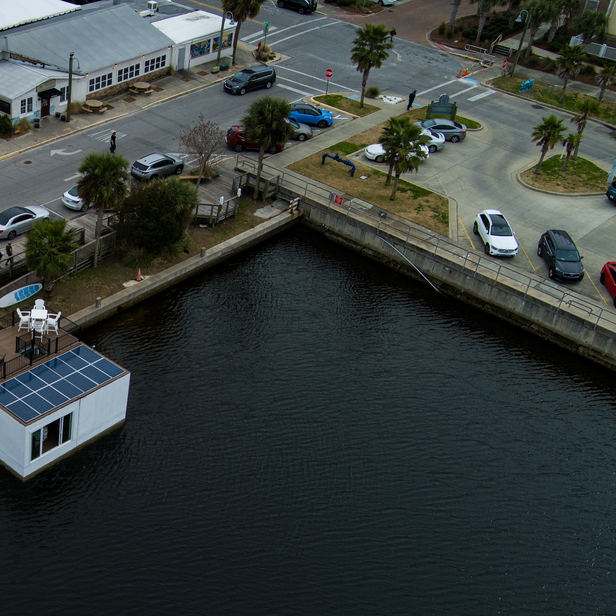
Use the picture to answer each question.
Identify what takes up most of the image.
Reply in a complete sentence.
The largest share of the image is taken up by water.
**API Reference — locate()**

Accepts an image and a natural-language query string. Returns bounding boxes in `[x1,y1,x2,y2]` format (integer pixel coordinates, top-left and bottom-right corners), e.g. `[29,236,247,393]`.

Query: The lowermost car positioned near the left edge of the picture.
[0,202,53,240]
